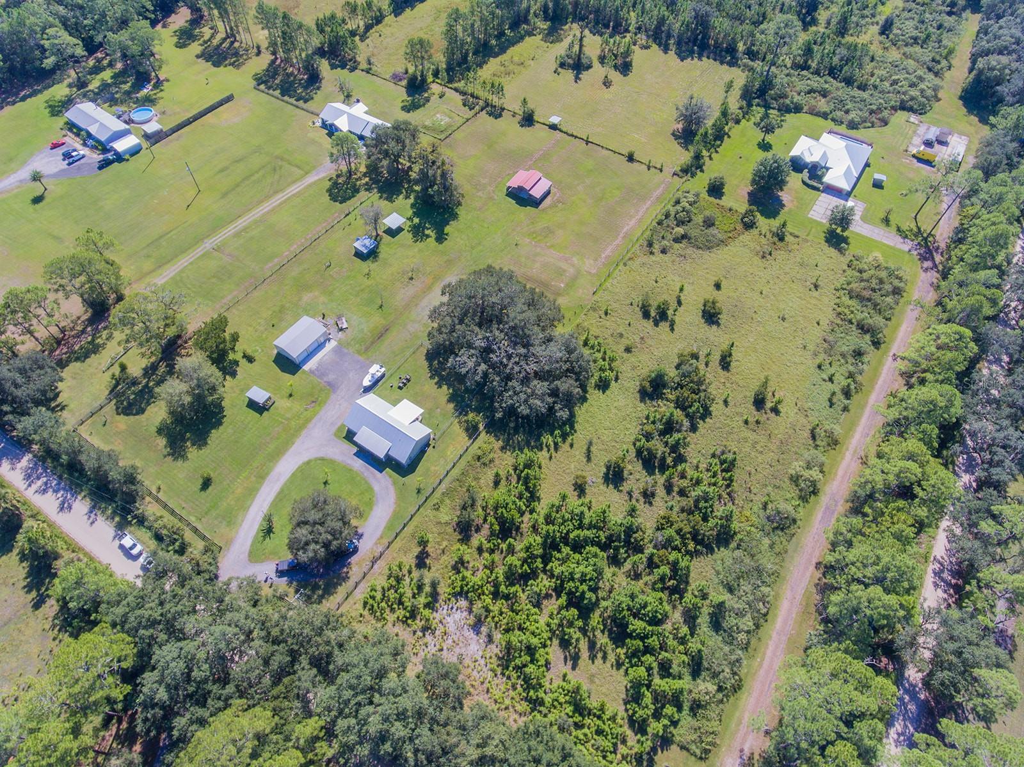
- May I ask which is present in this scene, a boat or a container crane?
boat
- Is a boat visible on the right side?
No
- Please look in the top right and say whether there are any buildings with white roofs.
Yes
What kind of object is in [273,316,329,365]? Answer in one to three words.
building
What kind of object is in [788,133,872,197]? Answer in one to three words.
house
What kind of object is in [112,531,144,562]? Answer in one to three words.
truck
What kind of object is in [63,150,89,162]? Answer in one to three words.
vehicle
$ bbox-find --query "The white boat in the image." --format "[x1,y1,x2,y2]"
[363,360,389,386]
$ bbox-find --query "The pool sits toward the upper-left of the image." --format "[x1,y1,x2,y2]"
[126,106,155,123]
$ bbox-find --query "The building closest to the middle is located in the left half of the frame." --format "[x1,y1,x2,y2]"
[341,393,433,468]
